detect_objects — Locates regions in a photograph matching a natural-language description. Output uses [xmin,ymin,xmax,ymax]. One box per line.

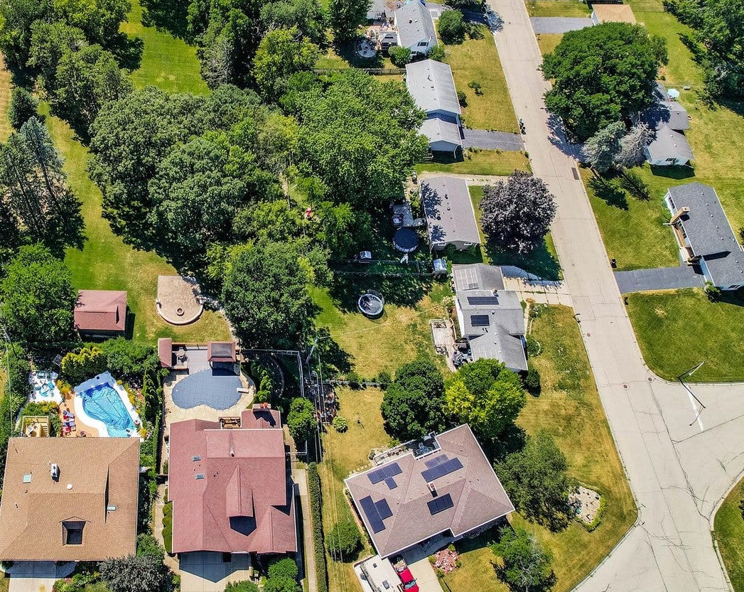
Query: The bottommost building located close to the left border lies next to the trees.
[0,437,143,561]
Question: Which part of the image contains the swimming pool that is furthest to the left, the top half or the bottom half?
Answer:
bottom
